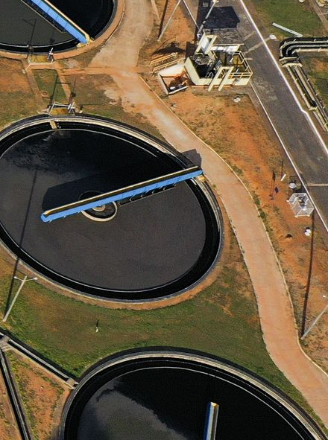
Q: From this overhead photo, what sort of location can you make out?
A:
industrial area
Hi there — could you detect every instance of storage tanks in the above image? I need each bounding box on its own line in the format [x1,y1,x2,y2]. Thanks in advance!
[0,0,122,59]
[52,348,328,440]
[0,114,229,310]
